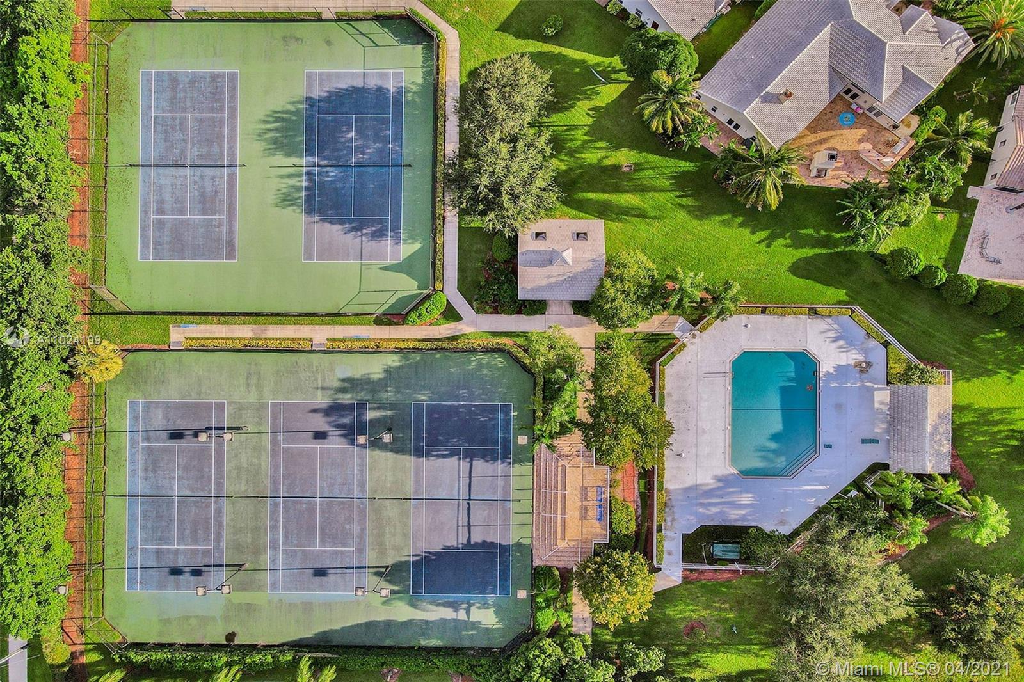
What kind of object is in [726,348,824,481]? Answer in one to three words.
swimming pool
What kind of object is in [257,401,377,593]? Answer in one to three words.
tennis court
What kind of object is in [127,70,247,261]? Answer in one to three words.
tennis court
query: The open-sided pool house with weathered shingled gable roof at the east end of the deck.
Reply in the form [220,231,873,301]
[882,384,954,475]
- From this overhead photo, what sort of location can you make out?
sports ground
